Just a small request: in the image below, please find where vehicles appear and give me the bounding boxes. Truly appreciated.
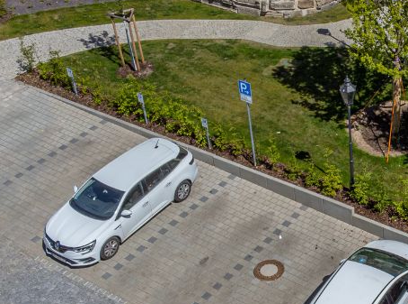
[40,142,198,267]
[311,238,408,304]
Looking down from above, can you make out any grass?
Yes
